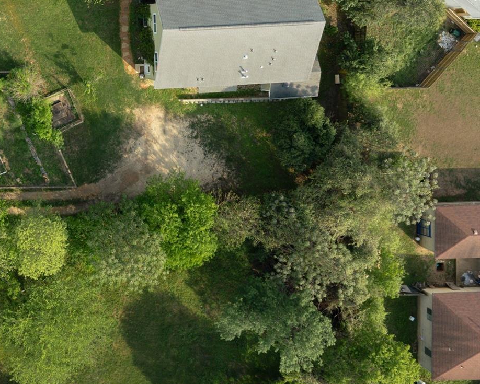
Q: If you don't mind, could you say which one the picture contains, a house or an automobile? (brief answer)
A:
house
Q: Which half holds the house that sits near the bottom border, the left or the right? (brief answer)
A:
right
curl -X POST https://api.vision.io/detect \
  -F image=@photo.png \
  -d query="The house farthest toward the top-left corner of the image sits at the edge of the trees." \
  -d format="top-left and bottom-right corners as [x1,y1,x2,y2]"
[131,0,325,100]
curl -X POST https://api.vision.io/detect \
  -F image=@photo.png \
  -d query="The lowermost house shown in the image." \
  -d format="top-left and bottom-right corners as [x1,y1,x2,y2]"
[418,288,480,381]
